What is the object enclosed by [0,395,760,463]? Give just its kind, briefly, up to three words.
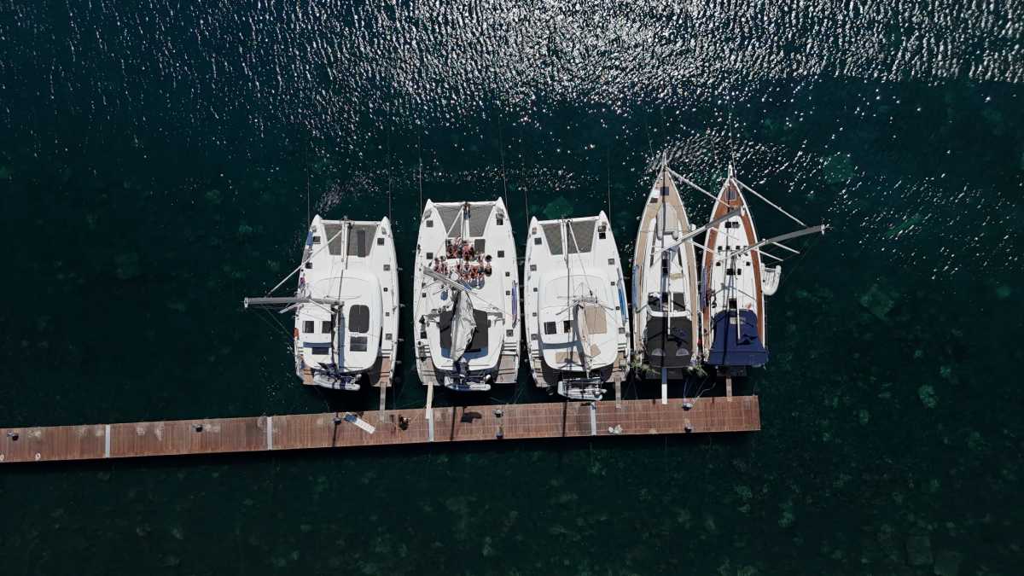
pier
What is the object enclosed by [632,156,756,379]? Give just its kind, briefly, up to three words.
boat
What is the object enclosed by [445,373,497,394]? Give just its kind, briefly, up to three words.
boat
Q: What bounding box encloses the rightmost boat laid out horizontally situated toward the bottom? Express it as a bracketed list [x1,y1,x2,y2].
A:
[560,377,612,402]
